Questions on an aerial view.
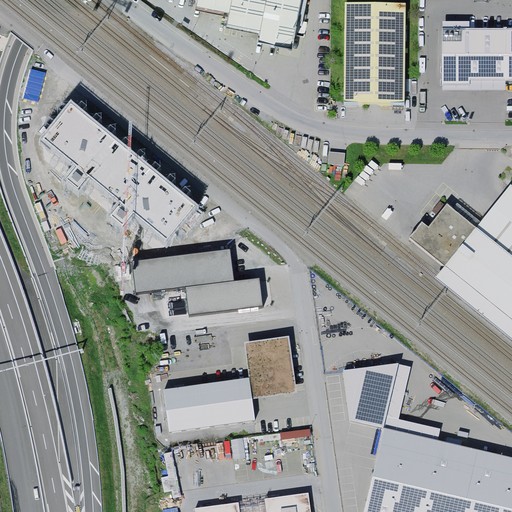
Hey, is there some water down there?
No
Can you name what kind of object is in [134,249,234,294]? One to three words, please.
building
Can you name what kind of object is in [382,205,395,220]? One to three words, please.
vehicle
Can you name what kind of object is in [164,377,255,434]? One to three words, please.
building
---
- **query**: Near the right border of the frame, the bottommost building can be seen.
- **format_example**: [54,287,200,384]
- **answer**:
[364,428,512,512]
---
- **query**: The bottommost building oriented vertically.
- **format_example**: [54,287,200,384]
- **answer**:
[162,452,182,498]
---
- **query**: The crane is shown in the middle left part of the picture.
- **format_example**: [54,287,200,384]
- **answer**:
[118,121,132,294]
